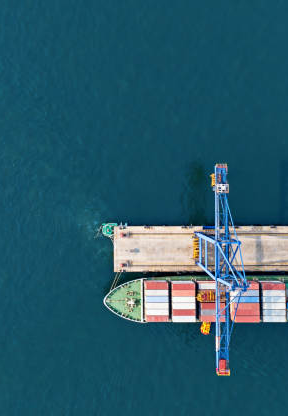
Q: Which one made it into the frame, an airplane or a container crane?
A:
container crane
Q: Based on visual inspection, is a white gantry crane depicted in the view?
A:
No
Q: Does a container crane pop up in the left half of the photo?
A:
No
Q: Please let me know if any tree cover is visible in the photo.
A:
No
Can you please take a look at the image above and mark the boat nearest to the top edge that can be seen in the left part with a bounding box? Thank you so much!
[103,224,119,237]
